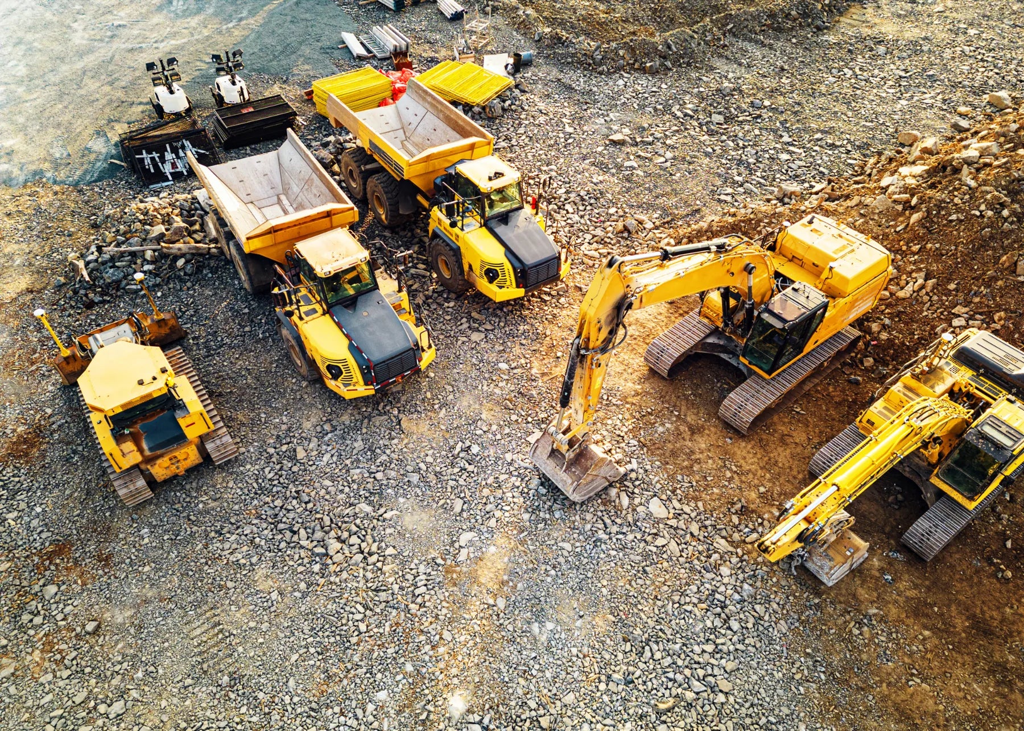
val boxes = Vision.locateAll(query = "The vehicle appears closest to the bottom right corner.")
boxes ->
[753,323,1024,591]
